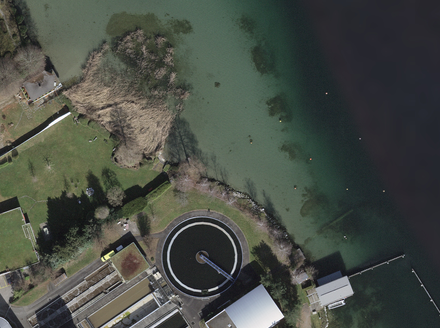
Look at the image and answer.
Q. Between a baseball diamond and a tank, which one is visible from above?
tank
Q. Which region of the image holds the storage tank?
bottom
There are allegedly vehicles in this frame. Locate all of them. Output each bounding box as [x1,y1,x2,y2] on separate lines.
[102,250,116,262]
[5,274,12,286]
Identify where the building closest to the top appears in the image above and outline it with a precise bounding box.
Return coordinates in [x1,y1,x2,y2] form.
[22,72,62,102]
